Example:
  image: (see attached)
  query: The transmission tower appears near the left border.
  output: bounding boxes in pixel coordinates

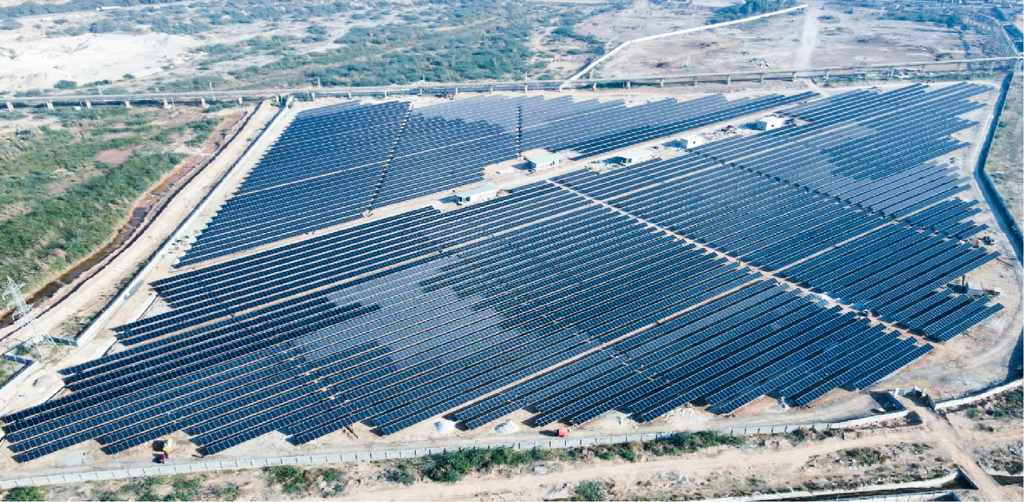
[2,281,51,359]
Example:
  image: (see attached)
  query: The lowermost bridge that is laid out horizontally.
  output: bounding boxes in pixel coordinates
[0,56,1024,112]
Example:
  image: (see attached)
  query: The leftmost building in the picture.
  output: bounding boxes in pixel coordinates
[454,184,497,206]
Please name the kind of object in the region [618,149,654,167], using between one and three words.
building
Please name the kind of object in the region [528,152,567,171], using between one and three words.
building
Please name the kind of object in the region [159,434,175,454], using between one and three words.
work vehicle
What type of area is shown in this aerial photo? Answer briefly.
solar farm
